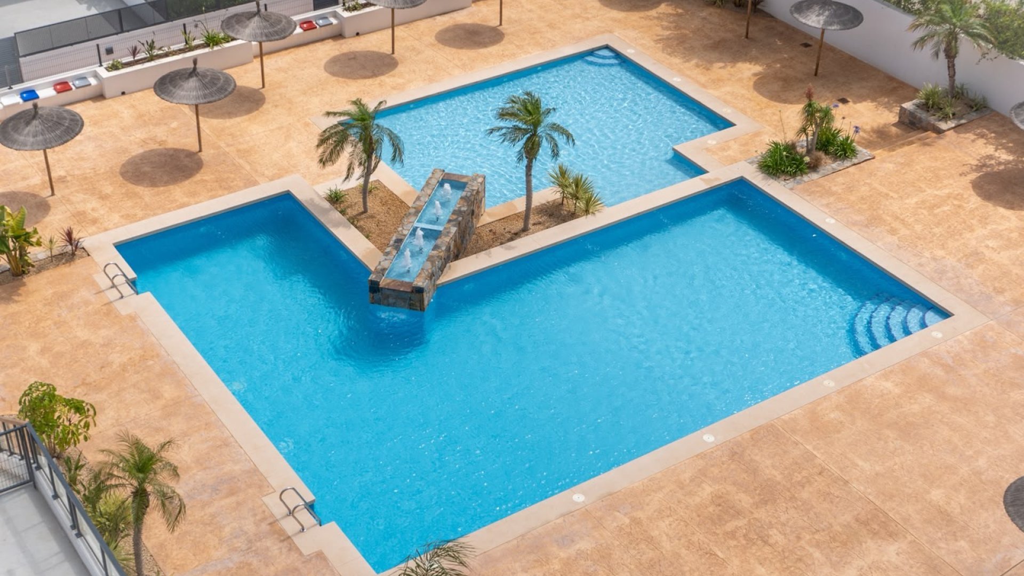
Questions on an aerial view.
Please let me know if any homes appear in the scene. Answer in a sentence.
No, there's no home here.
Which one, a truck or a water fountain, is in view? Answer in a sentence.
It is a water fountain that can be seen here.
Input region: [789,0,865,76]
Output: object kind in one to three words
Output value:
umbrella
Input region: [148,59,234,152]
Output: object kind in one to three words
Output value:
umbrella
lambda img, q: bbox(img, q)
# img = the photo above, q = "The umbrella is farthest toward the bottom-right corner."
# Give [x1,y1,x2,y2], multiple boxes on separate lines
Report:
[998,467,1024,531]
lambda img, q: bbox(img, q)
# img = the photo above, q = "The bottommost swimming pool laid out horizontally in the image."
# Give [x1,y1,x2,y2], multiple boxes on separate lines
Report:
[81,160,991,576]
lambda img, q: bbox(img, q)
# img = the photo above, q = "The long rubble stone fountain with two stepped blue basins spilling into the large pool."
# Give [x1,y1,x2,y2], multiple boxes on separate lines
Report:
[367,167,486,318]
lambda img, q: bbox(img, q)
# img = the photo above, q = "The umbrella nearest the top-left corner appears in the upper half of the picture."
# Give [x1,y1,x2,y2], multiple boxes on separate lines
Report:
[0,97,85,195]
